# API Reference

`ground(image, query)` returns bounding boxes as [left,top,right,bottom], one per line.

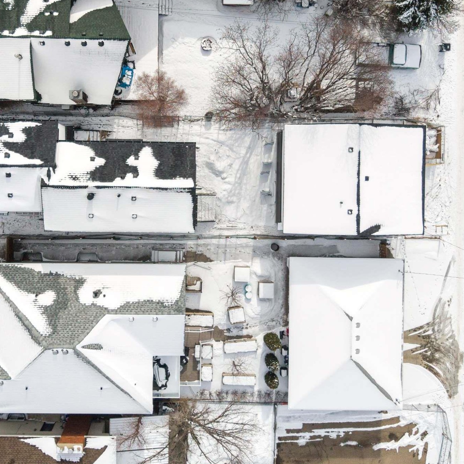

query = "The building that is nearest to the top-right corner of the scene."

[267,122,425,235]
